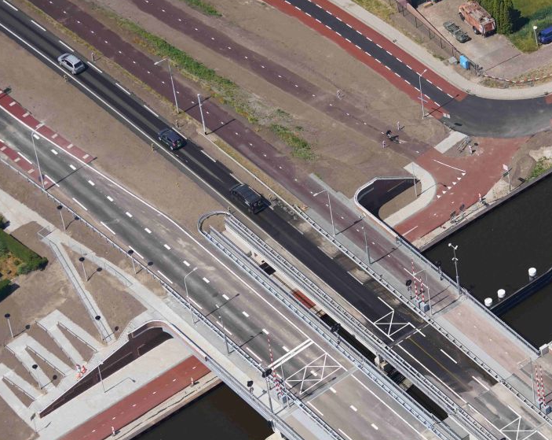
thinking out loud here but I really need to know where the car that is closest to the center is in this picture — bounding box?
[228,180,273,212]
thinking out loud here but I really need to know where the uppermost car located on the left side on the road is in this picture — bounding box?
[53,52,92,77]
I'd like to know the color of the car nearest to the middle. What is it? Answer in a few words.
black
